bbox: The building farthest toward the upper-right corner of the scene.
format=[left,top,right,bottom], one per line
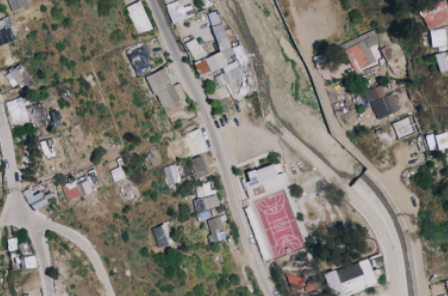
[422,1,448,29]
